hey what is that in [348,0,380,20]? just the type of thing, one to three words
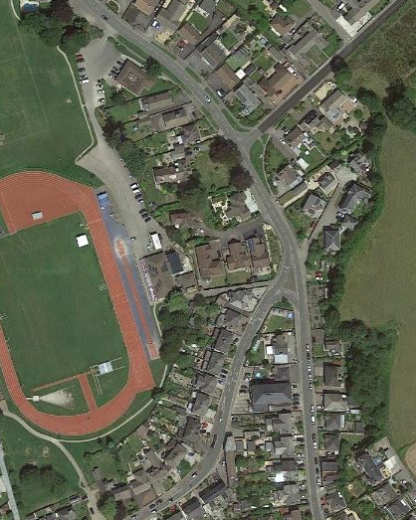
house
